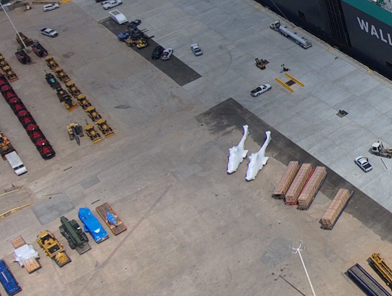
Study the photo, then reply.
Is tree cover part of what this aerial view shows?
No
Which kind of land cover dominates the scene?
paved ground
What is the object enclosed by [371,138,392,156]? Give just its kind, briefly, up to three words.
work vehicle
